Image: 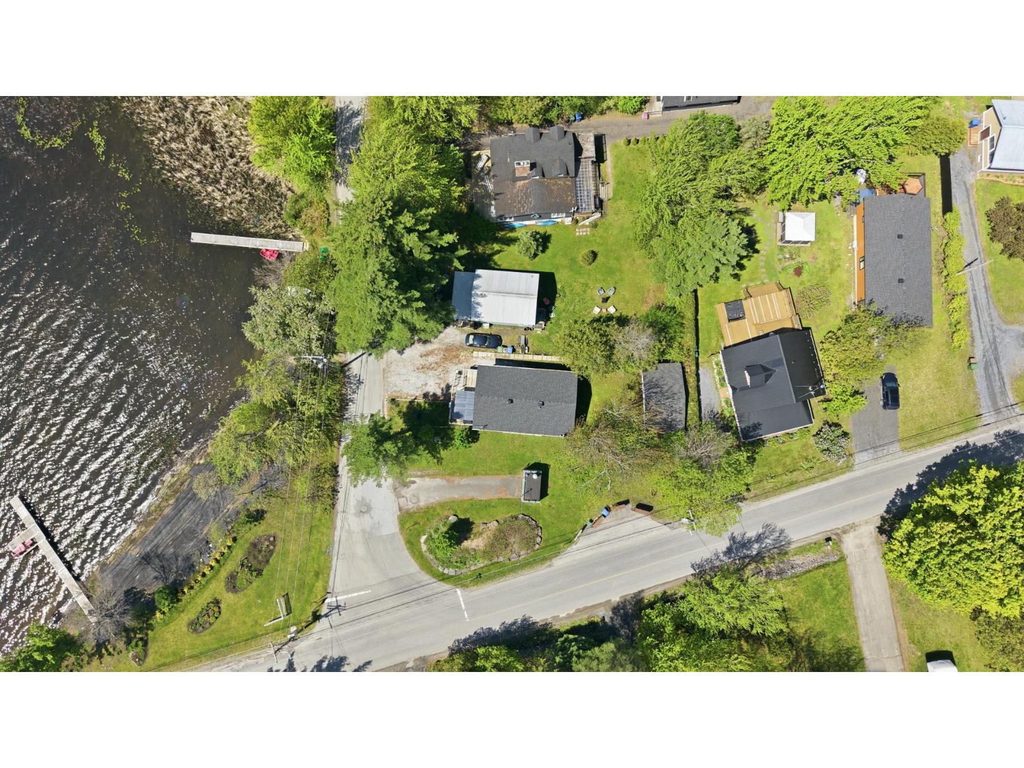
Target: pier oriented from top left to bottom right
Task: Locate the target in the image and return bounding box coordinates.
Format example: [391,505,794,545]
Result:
[6,496,100,622]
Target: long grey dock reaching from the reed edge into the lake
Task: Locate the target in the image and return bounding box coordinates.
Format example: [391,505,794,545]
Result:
[191,233,304,251]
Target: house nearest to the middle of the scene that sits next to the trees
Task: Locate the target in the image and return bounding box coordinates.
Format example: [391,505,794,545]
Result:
[472,364,577,437]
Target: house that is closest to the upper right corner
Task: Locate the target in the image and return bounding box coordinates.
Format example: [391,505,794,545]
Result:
[978,100,1024,180]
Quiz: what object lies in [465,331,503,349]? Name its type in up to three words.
car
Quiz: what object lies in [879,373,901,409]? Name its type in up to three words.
car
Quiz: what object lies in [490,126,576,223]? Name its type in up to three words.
house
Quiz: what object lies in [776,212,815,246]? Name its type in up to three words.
gazebo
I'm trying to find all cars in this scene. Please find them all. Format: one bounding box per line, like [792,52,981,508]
[465,331,503,349]
[879,373,901,409]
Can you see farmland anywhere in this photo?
No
